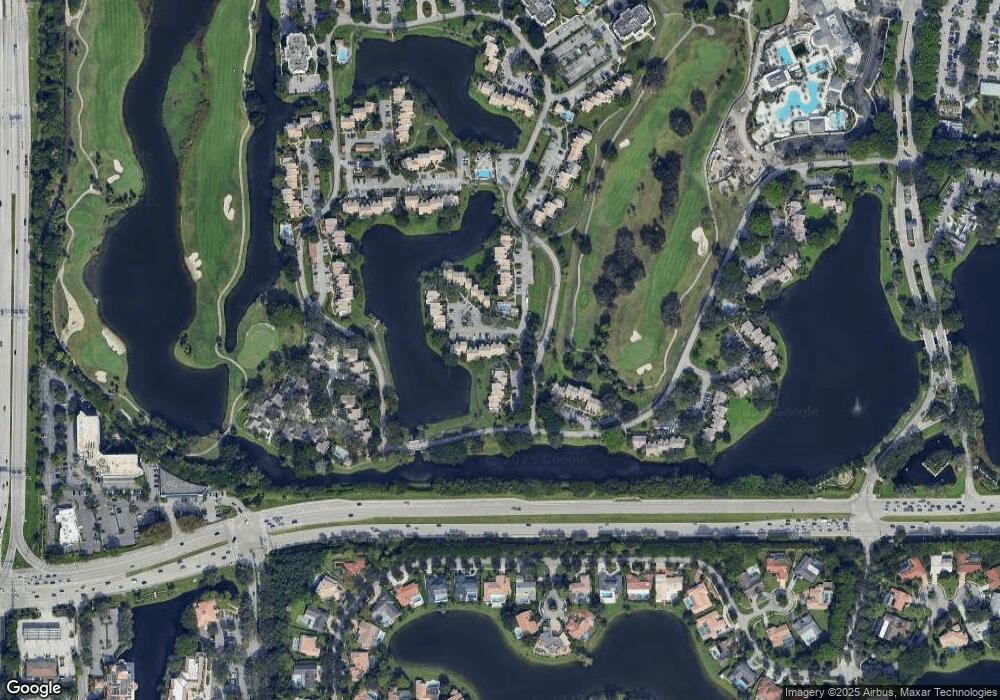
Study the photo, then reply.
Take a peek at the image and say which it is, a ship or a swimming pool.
swimming pool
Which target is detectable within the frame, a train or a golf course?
golf course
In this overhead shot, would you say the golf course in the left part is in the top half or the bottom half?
top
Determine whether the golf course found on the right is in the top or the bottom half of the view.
top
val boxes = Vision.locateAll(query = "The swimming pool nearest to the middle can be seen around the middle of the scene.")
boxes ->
[498,301,518,316]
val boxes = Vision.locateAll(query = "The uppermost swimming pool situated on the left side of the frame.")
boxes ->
[336,40,350,64]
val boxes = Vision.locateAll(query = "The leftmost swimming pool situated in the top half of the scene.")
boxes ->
[280,222,293,244]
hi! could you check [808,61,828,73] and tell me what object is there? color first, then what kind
blue swimming pool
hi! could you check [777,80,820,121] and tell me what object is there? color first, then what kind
blue swimming pool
